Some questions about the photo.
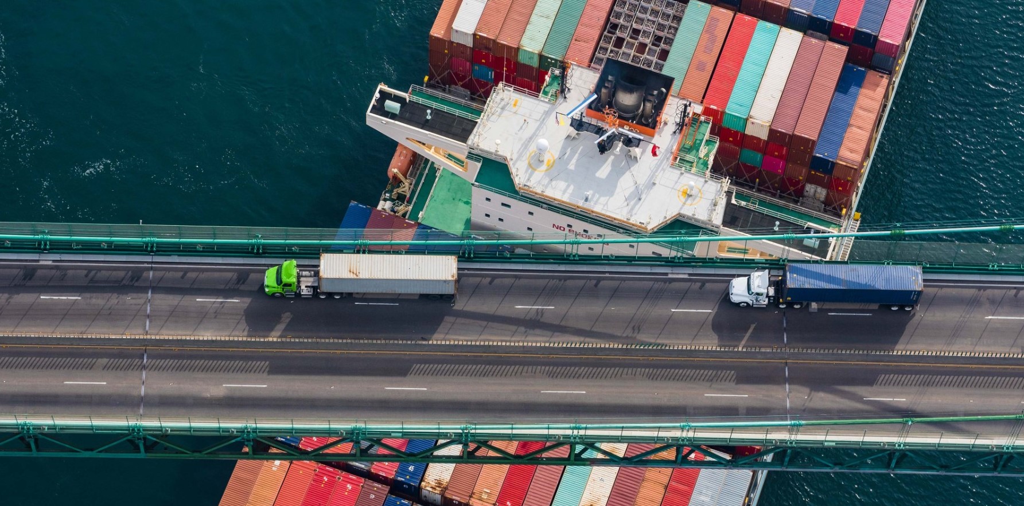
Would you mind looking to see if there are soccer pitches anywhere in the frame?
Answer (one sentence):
No, no soccer pitch is visible in the view.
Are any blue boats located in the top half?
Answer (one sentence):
No, I see no blue boat in the top half.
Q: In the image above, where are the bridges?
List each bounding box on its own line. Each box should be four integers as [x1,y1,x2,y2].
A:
[0,215,1024,476]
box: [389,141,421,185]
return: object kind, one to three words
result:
boat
